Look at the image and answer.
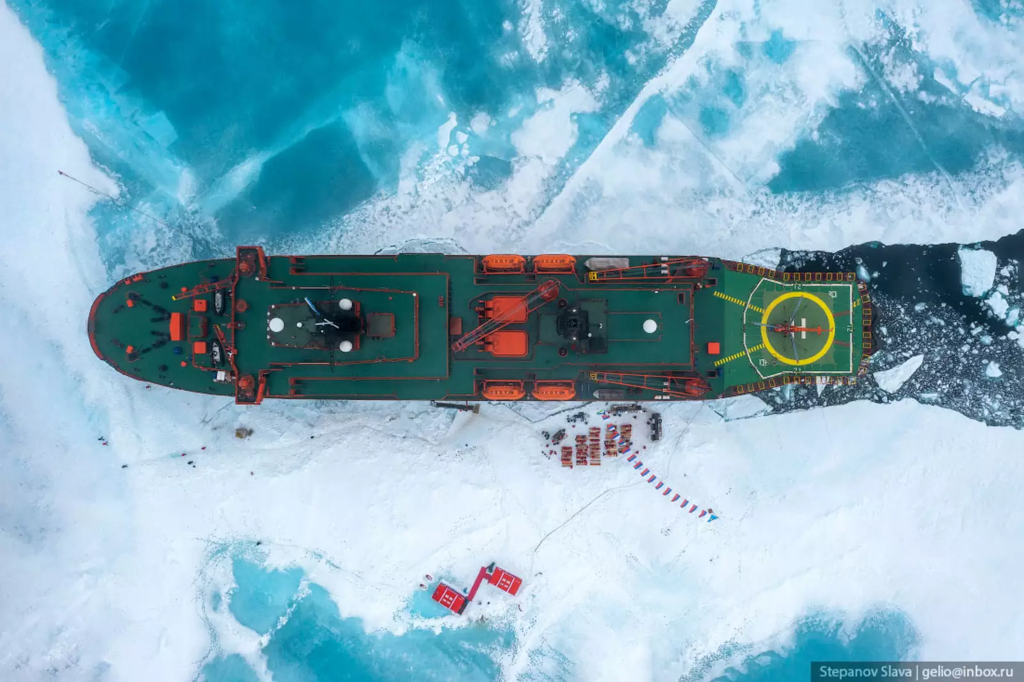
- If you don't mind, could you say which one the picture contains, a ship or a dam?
ship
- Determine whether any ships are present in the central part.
Yes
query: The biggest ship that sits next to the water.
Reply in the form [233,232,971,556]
[87,246,882,404]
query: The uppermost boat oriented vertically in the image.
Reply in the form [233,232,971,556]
[213,288,225,315]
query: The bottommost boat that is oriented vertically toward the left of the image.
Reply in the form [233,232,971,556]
[211,339,223,367]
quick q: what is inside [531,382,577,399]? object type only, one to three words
boat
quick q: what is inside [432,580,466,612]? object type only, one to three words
tent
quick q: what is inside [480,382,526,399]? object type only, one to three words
boat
